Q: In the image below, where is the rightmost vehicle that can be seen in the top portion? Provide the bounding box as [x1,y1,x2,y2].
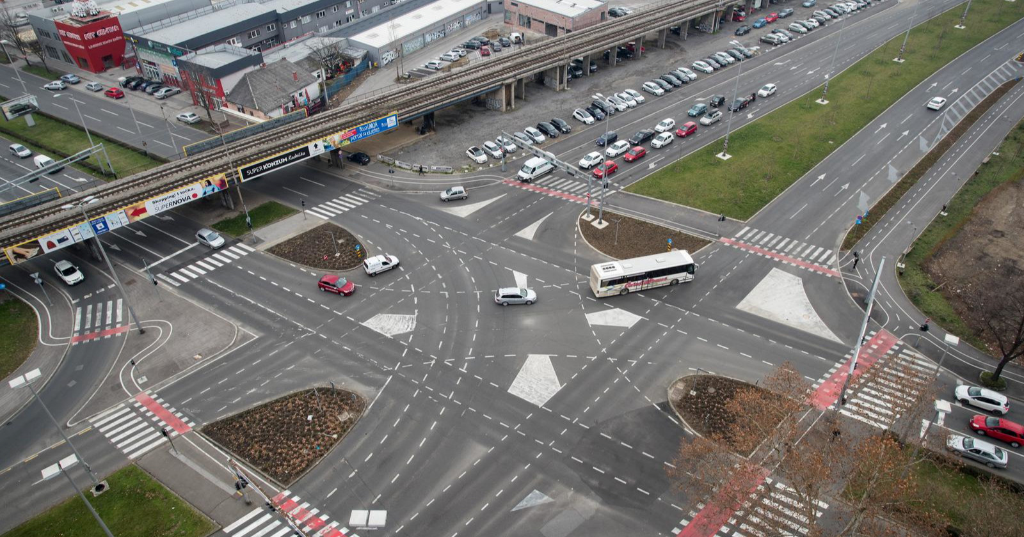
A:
[924,97,948,111]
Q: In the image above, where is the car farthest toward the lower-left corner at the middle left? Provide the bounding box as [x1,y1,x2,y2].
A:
[55,261,82,285]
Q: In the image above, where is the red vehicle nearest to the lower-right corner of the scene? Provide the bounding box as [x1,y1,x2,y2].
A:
[969,417,1024,450]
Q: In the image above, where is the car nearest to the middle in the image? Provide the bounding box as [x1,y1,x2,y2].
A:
[495,288,535,306]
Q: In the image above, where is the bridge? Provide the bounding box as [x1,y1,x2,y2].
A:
[0,0,806,265]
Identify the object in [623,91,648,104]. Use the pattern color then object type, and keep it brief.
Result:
white vehicle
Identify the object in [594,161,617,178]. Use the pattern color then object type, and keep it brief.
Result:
red car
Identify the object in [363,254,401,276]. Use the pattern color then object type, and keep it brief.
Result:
white vehicle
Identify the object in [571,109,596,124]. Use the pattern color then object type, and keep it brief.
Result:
white car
